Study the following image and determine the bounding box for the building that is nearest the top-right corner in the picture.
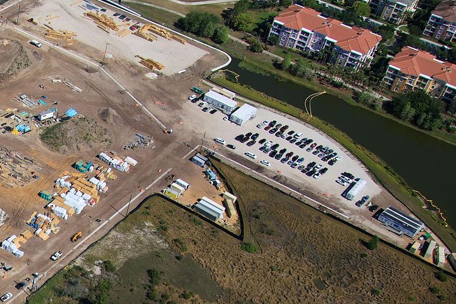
[423,5,456,48]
